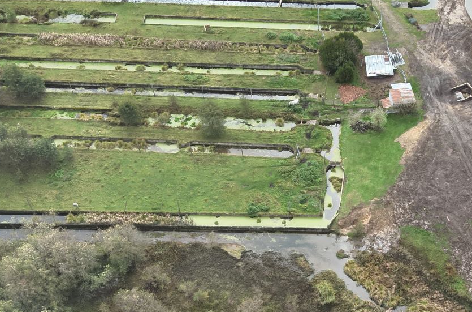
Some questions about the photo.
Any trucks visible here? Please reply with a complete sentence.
No, the photo shows no truck.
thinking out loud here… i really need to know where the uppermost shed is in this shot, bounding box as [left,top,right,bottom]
[365,55,393,82]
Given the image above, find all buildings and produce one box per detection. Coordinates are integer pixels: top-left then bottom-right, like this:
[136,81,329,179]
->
[382,82,415,115]
[365,55,393,82]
